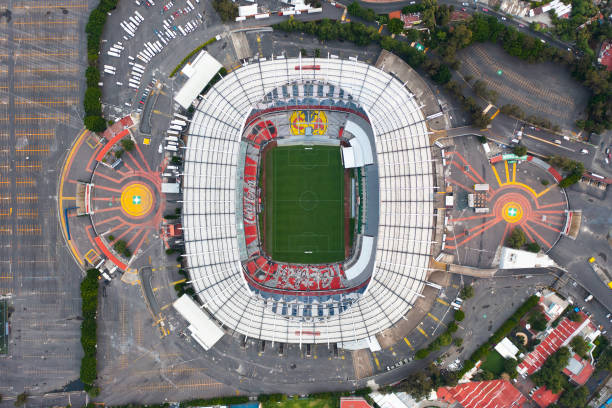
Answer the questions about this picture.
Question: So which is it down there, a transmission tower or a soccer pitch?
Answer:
soccer pitch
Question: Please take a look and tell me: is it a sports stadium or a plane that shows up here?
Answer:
sports stadium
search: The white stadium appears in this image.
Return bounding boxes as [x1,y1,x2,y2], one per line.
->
[179,51,437,349]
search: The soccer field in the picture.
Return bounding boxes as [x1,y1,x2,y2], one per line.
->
[273,146,344,263]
